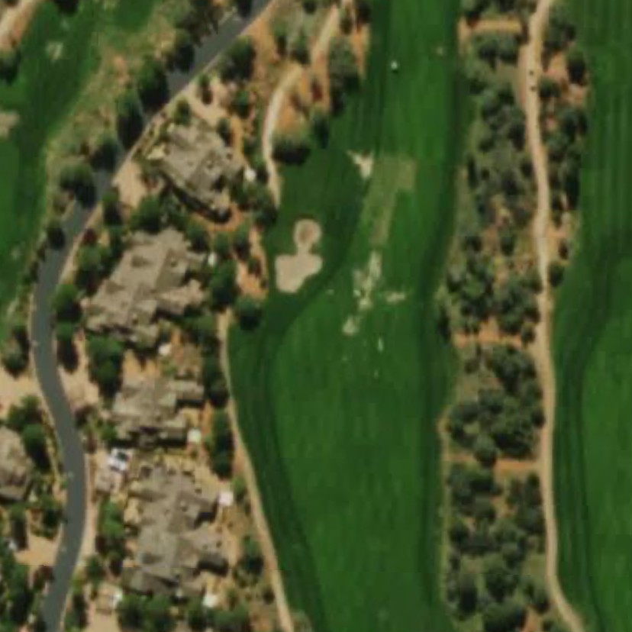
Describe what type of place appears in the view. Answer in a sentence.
It's a golf course.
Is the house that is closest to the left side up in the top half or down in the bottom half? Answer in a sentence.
You can find the house that is closest to the left side in the bottom half.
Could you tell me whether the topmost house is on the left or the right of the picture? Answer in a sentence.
The topmost house is on the left side of the image.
